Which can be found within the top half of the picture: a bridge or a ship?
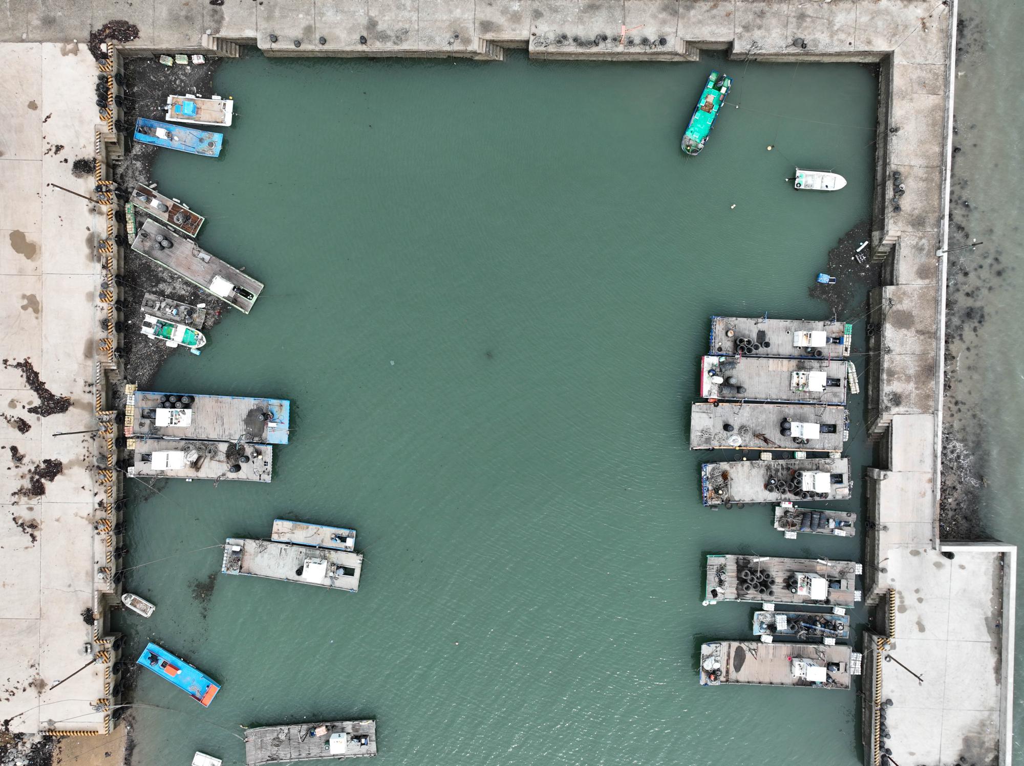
ship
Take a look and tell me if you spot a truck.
No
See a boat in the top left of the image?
Yes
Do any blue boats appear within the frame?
Yes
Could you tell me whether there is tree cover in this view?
No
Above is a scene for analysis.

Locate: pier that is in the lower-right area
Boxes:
[857,539,1018,766]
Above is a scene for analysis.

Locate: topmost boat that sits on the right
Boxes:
[681,70,734,157]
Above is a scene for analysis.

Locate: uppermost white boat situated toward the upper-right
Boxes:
[785,168,848,191]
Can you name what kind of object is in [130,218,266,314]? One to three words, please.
ship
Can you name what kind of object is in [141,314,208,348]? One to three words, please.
boat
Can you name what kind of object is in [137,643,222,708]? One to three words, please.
boat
